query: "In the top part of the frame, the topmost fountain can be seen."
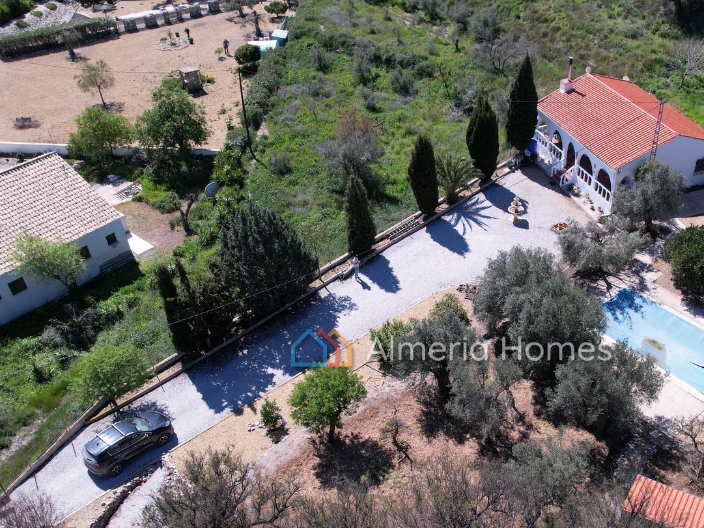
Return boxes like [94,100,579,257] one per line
[507,198,525,223]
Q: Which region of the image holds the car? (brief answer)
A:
bottom left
